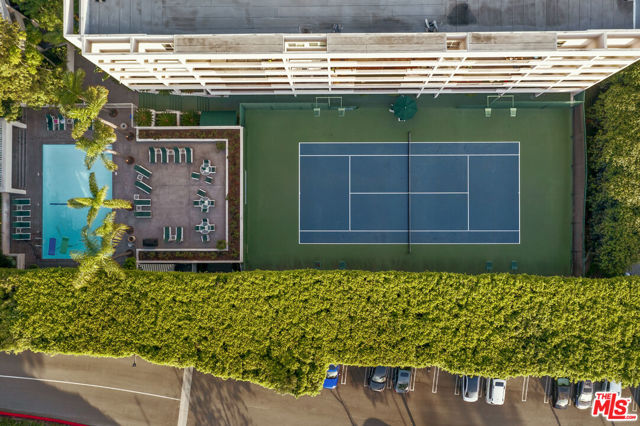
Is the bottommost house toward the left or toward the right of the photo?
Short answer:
left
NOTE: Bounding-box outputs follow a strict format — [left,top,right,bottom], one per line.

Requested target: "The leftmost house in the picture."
[0,122,42,197]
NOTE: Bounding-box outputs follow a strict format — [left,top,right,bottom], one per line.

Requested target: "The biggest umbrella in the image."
[392,97,416,121]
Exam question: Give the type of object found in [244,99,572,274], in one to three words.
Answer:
tennis court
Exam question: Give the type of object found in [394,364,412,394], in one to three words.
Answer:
car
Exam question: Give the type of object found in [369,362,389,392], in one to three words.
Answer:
car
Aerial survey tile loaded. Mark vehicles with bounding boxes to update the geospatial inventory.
[459,372,479,403]
[369,362,389,392]
[323,364,341,391]
[549,375,571,410]
[572,377,594,410]
[394,364,412,394]
[482,374,504,407]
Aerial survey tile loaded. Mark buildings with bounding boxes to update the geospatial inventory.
[199,111,239,127]
[0,122,42,197]
[62,0,640,99]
